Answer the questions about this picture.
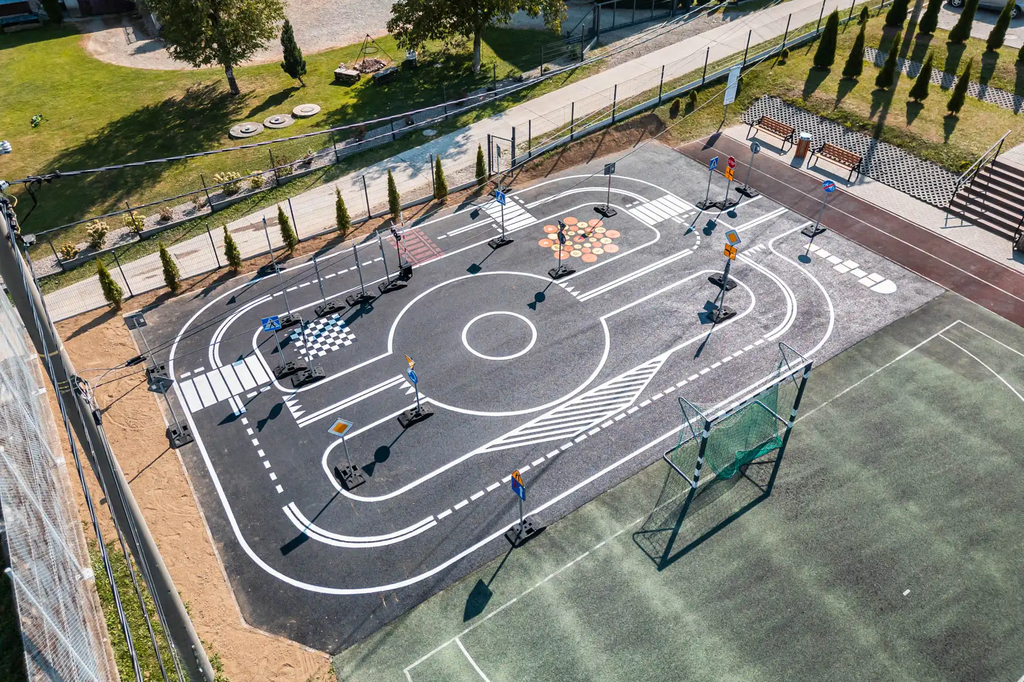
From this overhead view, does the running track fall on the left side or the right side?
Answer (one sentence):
The running track appears in the right half of the scene.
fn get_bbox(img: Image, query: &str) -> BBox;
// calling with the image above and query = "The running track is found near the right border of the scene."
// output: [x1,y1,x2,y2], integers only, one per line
[673,131,1024,327]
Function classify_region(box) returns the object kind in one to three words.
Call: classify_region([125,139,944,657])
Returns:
playground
